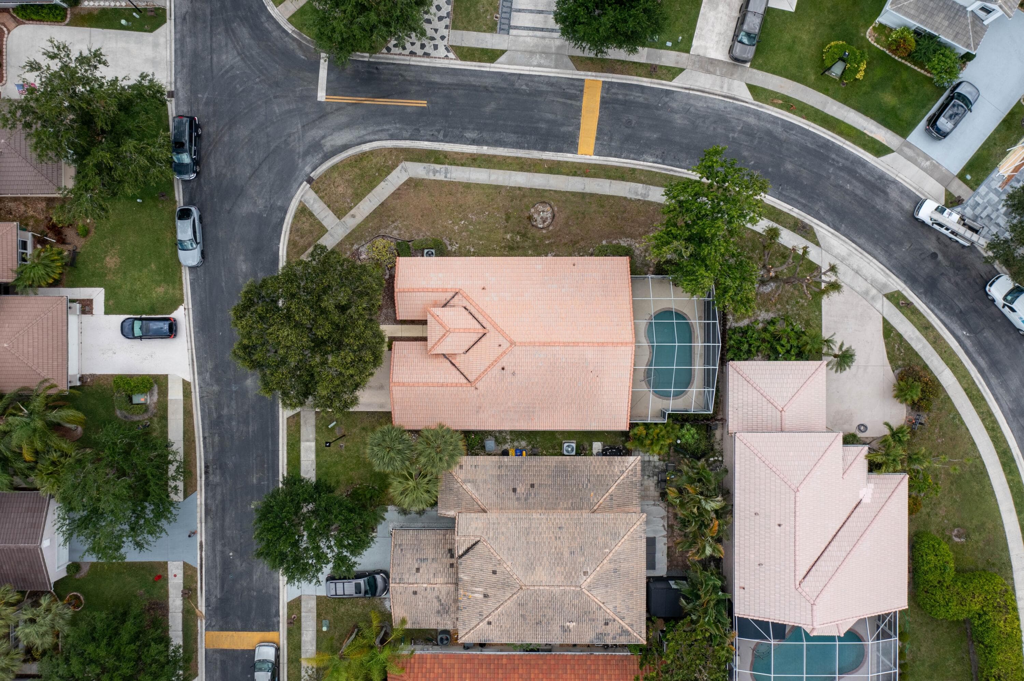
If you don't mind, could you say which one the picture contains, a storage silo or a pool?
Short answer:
pool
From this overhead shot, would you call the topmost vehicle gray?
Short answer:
Yes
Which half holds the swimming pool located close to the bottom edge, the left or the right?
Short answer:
right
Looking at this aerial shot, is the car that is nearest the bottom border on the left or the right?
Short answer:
left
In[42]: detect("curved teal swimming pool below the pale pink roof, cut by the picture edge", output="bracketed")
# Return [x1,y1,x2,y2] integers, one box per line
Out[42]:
[749,625,869,681]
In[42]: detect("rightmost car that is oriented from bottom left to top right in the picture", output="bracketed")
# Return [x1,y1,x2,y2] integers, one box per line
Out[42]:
[930,76,983,141]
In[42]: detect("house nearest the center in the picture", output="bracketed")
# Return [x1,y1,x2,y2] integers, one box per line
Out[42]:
[390,257,636,432]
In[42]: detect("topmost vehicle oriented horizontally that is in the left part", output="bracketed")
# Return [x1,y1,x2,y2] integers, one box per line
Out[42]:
[118,313,179,342]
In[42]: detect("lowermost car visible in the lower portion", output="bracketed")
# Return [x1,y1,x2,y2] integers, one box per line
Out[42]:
[248,643,281,681]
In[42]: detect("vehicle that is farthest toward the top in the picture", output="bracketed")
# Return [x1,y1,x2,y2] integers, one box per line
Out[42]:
[730,0,769,58]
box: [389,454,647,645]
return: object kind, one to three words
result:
house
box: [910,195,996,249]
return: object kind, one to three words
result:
vehicle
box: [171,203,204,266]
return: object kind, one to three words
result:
car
